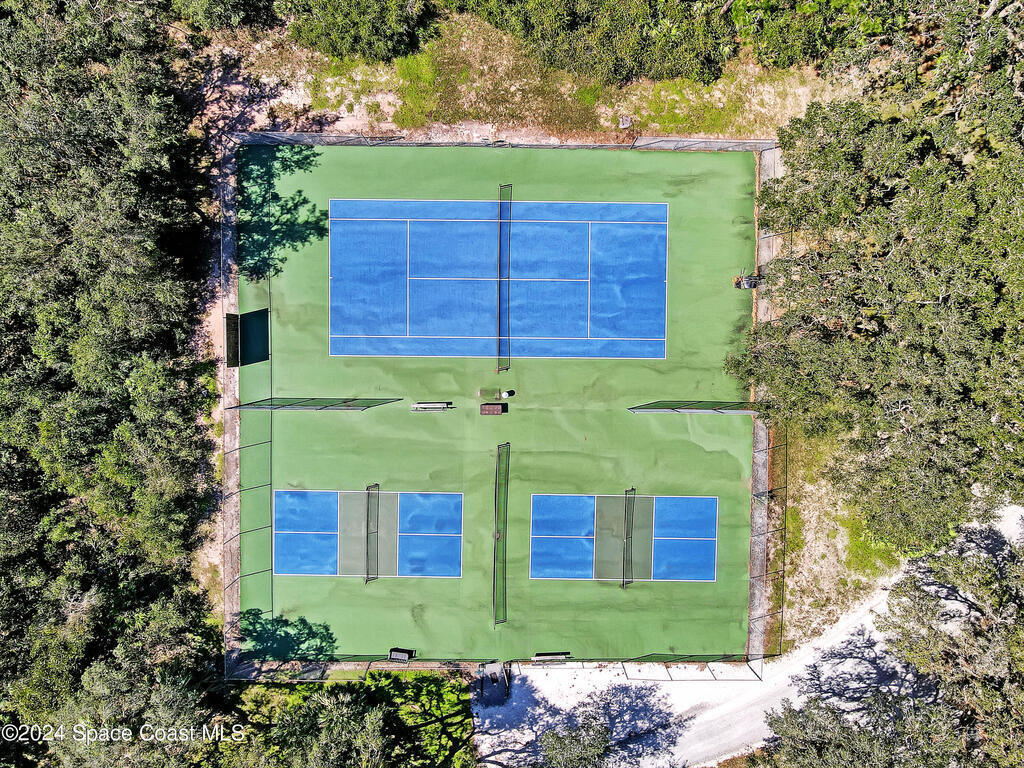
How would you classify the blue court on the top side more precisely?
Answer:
tennis court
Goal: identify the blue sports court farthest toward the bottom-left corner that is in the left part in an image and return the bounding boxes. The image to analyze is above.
[273,490,463,577]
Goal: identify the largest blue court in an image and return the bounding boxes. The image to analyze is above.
[329,199,668,359]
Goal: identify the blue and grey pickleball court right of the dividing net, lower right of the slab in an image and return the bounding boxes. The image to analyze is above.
[530,494,718,581]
